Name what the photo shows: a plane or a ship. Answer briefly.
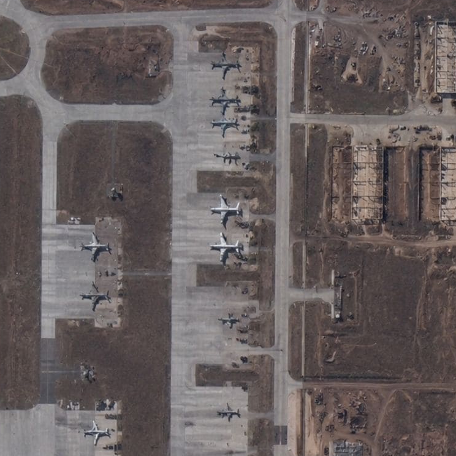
plane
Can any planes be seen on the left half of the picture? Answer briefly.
Yes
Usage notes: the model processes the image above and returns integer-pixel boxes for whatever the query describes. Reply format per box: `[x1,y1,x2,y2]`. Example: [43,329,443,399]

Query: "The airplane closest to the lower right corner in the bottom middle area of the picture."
[217,404,240,423]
